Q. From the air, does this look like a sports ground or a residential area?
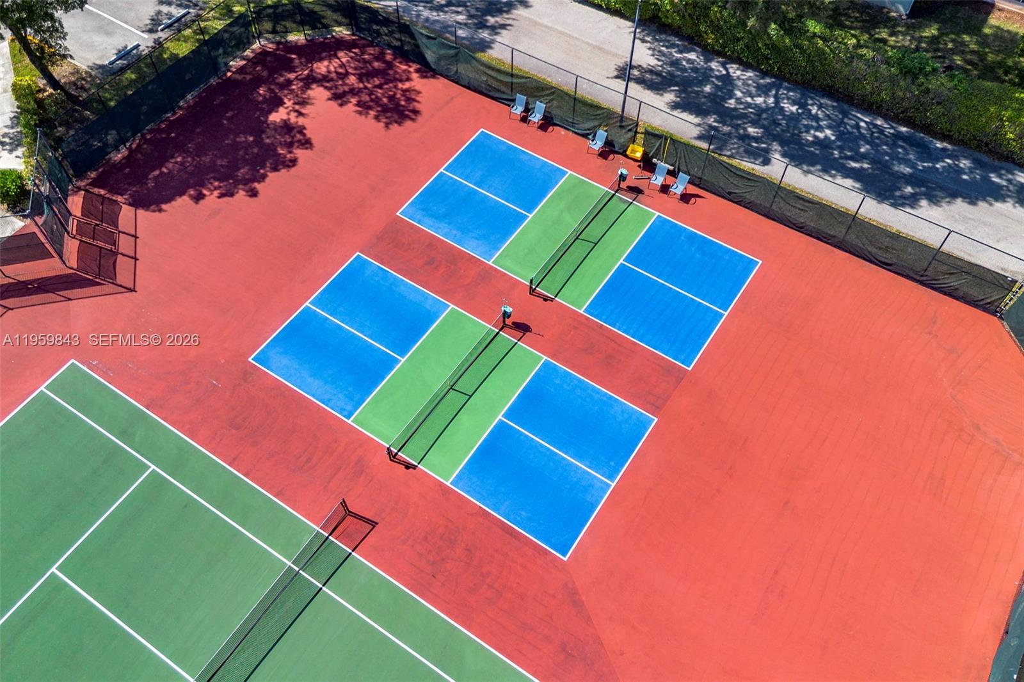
sports ground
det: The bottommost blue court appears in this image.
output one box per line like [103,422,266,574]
[249,253,657,560]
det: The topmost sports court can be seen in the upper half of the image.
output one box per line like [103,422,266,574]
[397,129,761,369]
